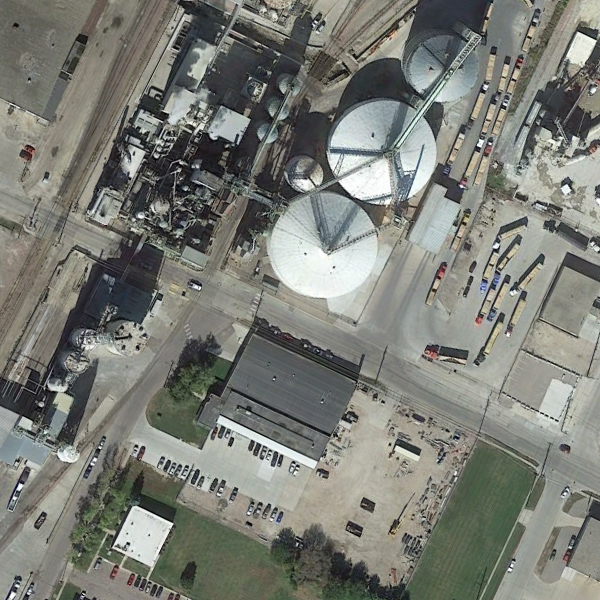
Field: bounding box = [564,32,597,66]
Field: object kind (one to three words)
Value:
shed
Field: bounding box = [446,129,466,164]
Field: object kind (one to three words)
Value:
vehicle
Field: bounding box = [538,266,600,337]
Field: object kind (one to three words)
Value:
building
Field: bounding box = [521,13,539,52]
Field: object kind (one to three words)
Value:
vehicle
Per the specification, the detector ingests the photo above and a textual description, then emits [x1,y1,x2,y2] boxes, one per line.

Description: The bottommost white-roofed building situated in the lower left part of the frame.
[111,506,173,566]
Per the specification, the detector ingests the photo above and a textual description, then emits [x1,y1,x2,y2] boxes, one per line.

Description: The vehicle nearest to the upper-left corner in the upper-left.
[21,142,35,161]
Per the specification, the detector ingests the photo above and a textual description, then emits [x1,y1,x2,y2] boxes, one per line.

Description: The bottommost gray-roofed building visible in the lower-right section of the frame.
[567,515,600,582]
